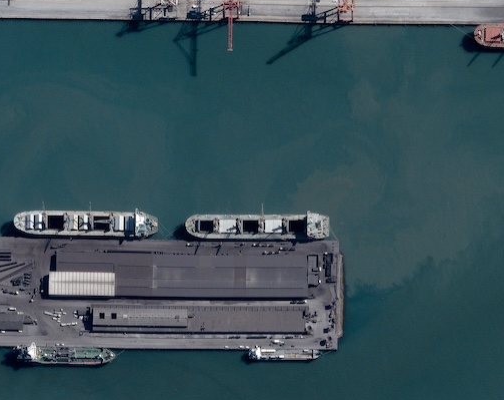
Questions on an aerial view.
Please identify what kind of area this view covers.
port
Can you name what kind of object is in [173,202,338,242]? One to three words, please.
ship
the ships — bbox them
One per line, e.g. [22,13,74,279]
[173,202,338,242]
[2,202,168,238]
[7,344,123,365]
[242,346,329,360]
[473,23,504,50]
